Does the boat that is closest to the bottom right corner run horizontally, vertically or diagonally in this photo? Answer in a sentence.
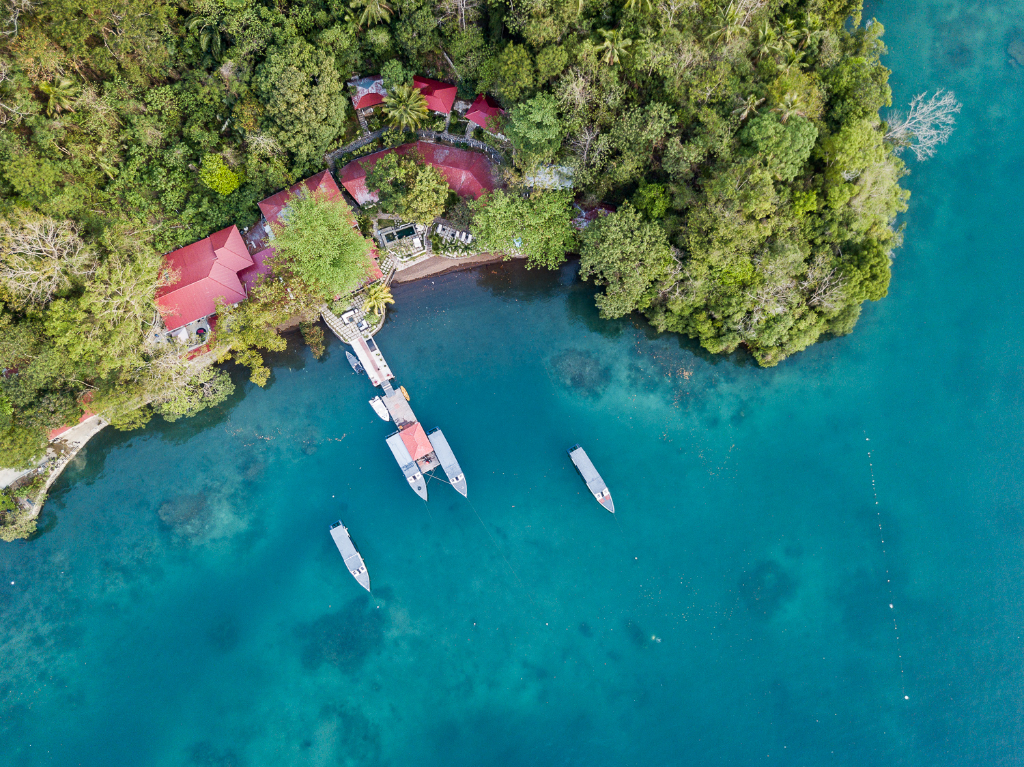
In this picture, the boat that is closest to the bottom right corner is oriented diagonally.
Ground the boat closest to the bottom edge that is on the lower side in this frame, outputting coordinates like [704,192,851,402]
[329,520,370,593]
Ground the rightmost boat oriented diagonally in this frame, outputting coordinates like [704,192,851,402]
[566,443,615,514]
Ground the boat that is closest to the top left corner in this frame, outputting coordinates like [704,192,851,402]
[345,351,364,374]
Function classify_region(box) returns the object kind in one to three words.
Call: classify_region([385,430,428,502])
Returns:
boat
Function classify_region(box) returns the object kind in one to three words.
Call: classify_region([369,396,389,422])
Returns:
boat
